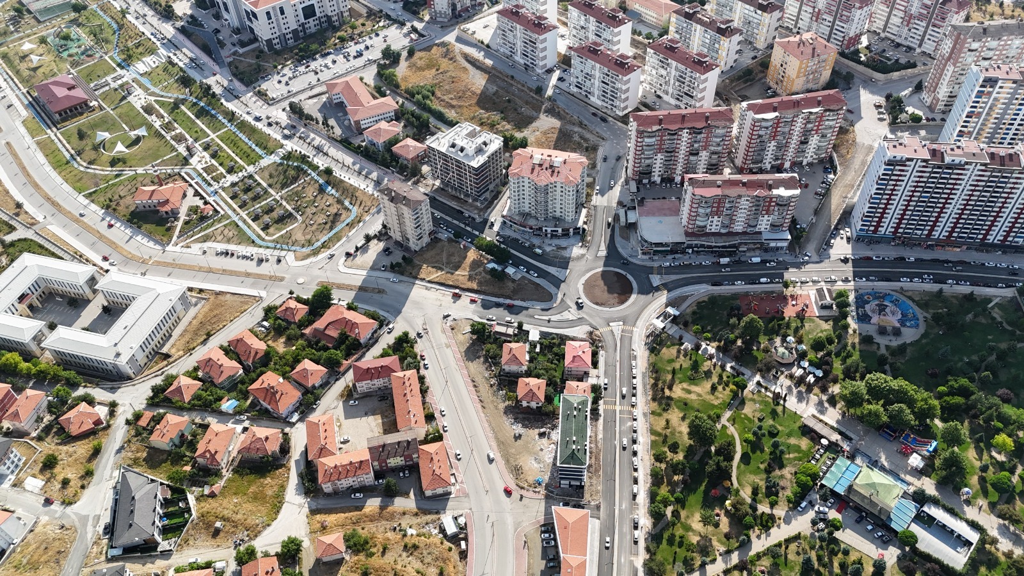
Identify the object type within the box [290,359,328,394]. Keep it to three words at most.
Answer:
house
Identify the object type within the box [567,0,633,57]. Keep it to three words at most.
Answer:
building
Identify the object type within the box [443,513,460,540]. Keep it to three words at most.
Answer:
shed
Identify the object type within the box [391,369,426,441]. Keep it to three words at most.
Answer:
building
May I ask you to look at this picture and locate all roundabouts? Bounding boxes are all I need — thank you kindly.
[579,268,637,309]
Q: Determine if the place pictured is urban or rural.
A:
urban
